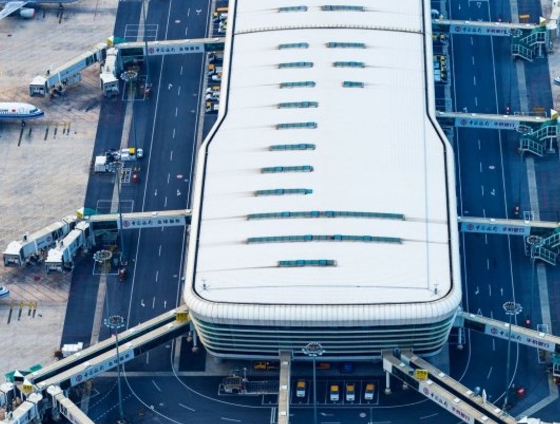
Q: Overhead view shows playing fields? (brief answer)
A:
No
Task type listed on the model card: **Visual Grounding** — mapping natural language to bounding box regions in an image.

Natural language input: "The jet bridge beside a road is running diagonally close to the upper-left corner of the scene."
[30,44,112,101]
